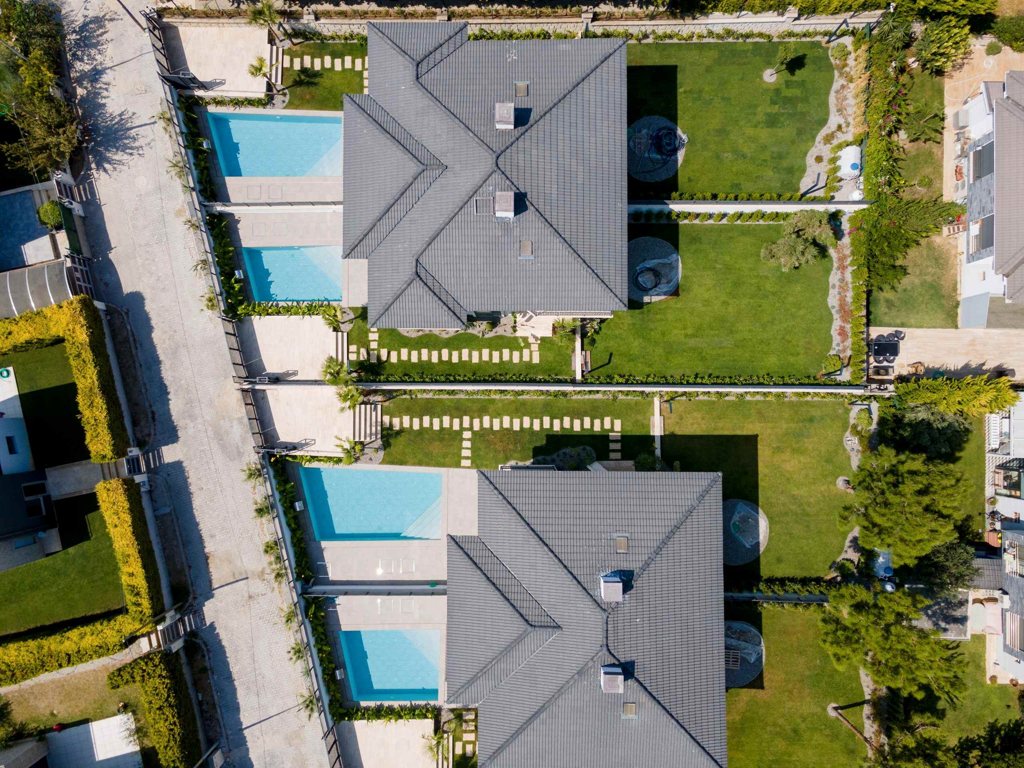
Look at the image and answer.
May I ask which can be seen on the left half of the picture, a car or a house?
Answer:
house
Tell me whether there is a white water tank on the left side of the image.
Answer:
No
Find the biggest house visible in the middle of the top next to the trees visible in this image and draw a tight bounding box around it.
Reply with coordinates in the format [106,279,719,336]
[340,18,630,328]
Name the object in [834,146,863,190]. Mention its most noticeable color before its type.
white water tank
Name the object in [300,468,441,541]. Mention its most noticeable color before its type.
blue swimming pool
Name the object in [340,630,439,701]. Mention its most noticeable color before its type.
blue swimming pool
